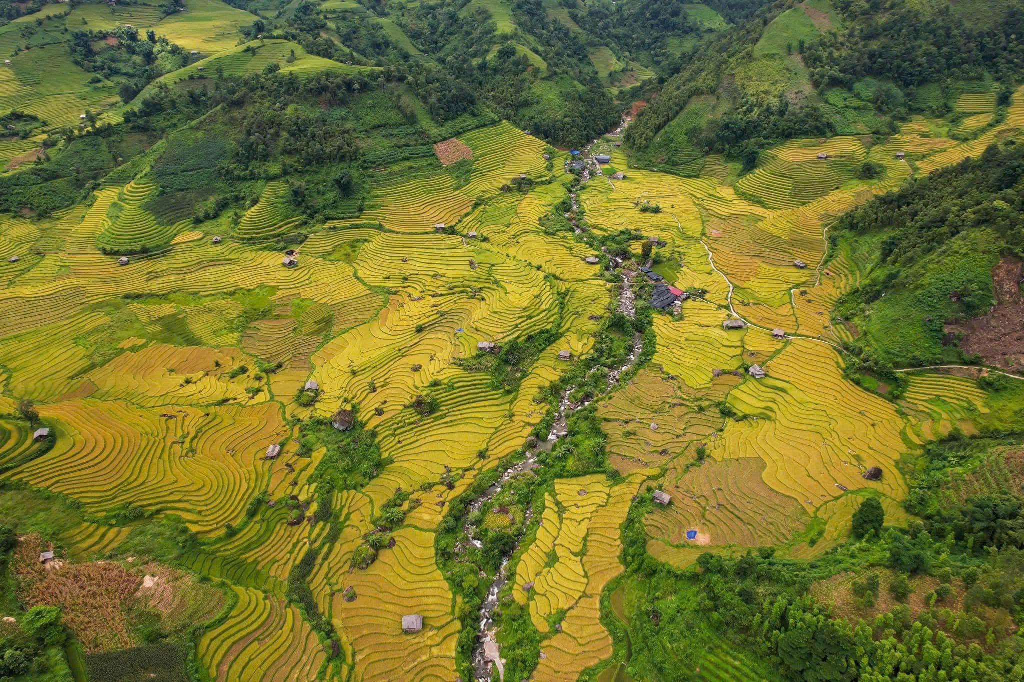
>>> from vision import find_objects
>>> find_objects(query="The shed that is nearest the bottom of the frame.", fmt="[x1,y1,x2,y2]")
[400,611,423,634]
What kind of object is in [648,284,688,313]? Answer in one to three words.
house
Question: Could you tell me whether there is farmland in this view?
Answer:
Yes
